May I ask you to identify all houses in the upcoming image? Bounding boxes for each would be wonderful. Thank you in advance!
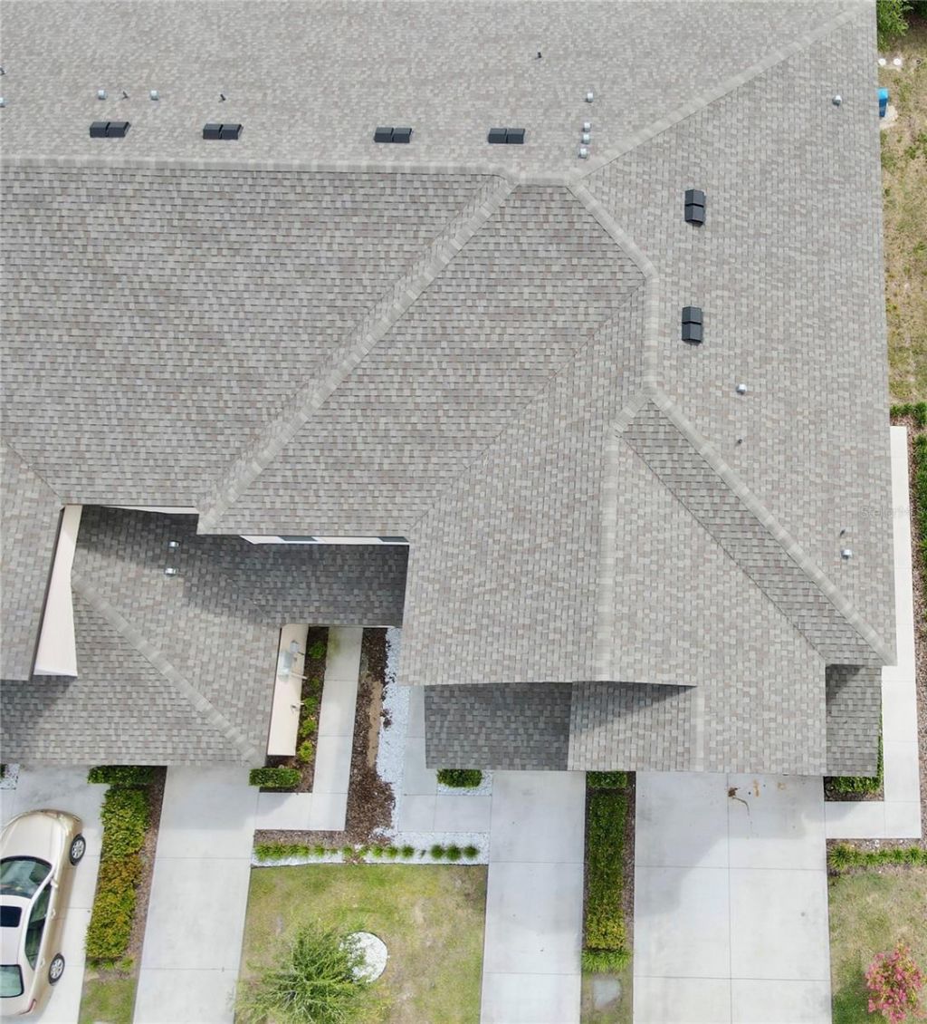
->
[0,0,896,776]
